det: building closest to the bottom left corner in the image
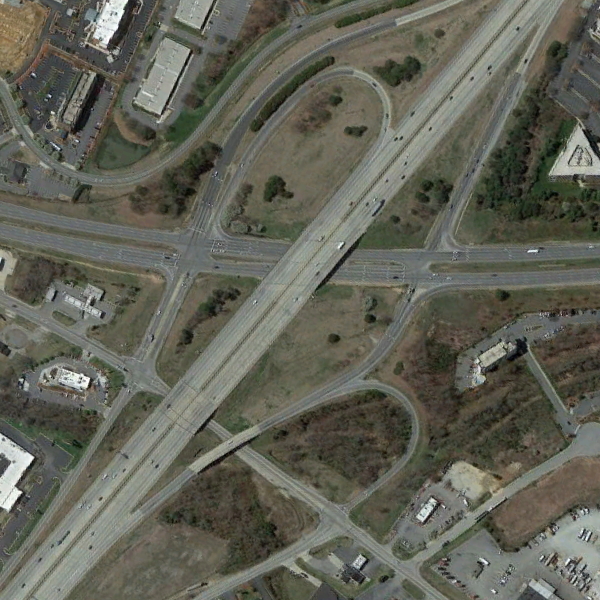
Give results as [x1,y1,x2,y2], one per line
[0,433,36,514]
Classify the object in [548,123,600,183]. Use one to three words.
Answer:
building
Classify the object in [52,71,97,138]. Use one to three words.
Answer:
building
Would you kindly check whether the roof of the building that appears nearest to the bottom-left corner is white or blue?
white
